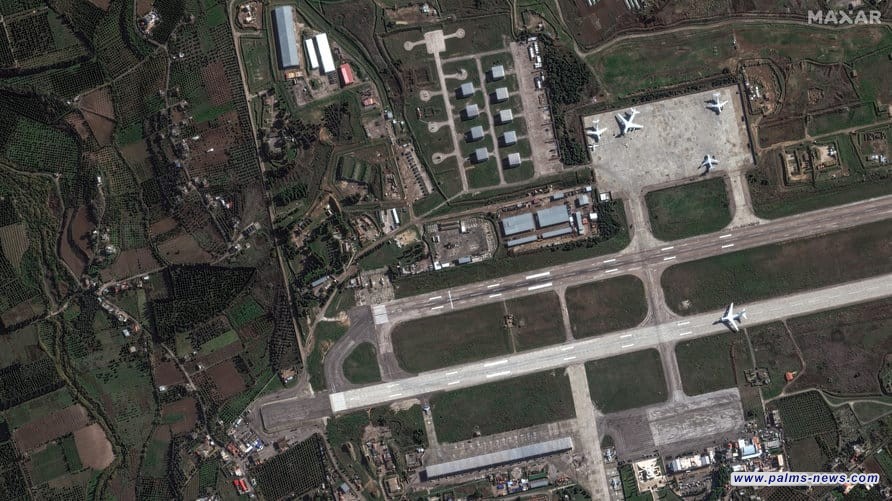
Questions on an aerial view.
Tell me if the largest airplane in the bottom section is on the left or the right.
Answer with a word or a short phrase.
right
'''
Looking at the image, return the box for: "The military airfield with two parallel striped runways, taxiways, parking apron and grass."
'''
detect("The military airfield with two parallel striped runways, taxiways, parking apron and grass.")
[238,20,892,501]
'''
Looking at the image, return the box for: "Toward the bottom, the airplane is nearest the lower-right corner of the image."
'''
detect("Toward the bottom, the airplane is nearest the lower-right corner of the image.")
[722,301,747,328]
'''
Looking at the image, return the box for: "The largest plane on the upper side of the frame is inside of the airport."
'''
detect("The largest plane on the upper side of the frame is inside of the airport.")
[618,107,645,133]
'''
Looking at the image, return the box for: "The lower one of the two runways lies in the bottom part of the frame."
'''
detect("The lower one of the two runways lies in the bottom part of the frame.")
[329,275,892,412]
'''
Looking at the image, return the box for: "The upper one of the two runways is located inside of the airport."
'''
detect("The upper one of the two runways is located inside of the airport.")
[372,195,892,324]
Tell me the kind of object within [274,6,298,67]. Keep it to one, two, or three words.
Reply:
barn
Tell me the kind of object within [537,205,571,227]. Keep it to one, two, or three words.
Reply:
building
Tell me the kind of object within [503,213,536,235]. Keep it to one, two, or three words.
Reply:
building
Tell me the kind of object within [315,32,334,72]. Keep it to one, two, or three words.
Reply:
shed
